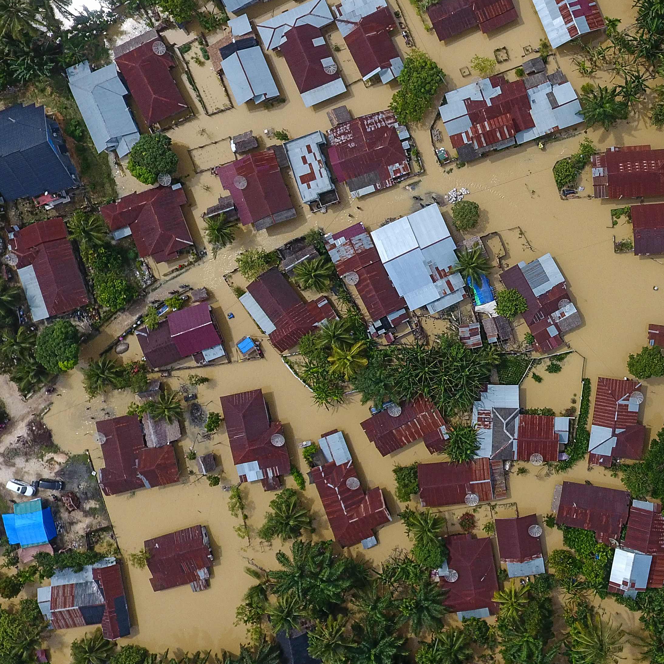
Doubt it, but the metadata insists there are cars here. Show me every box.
[31,478,63,494]
[1,478,34,498]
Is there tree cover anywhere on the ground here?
Yes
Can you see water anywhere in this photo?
Yes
